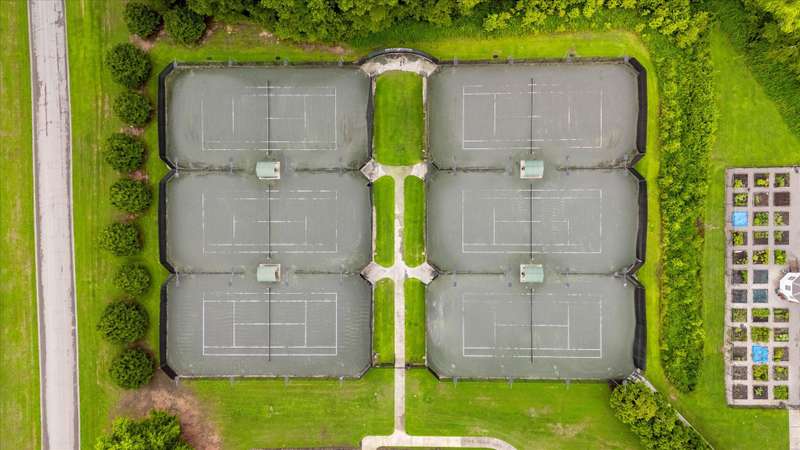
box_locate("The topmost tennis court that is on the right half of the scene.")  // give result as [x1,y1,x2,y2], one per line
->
[430,63,638,170]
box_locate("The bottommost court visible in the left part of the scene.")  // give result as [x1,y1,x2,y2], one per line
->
[168,273,372,377]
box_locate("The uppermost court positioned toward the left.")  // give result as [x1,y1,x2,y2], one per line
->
[166,66,370,170]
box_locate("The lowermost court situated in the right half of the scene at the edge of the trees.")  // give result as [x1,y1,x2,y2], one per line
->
[428,273,637,378]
